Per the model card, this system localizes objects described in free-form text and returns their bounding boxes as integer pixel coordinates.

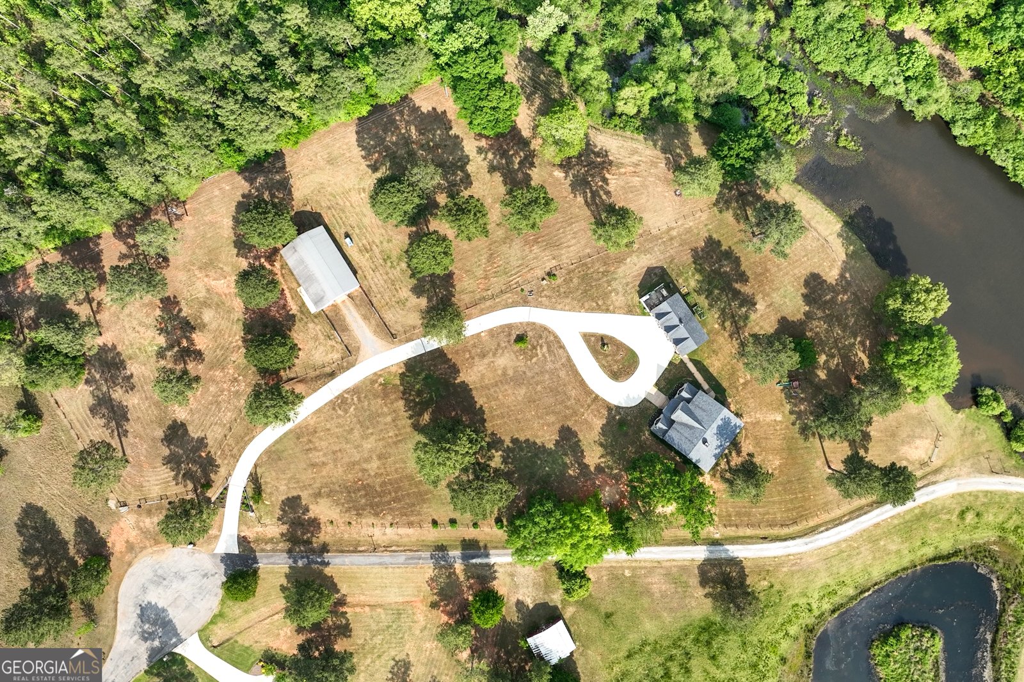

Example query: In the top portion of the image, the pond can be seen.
[758,0,1024,458]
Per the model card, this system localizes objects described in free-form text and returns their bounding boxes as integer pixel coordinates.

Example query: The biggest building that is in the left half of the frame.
[280,225,361,314]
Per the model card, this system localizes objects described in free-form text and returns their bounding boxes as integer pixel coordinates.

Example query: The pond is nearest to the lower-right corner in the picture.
[806,560,997,682]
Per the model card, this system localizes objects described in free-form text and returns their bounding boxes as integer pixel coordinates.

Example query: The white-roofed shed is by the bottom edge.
[527,617,576,665]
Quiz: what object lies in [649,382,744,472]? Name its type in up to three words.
house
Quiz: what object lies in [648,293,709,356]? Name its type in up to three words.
building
